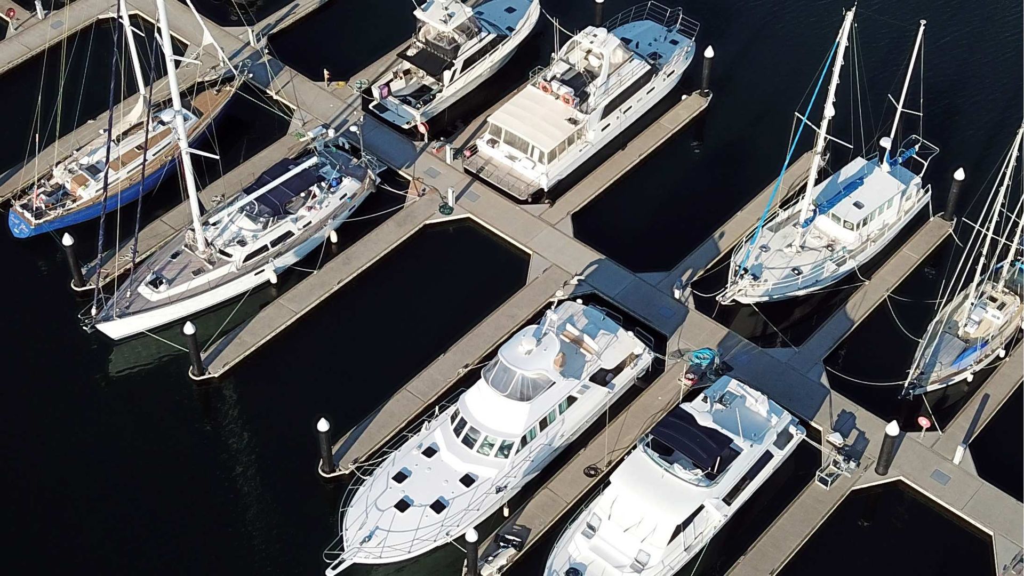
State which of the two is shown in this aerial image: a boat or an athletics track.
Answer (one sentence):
Of the two, only a boat appears.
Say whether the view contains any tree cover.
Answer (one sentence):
No, there's no tree cover in this view.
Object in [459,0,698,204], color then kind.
white boat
